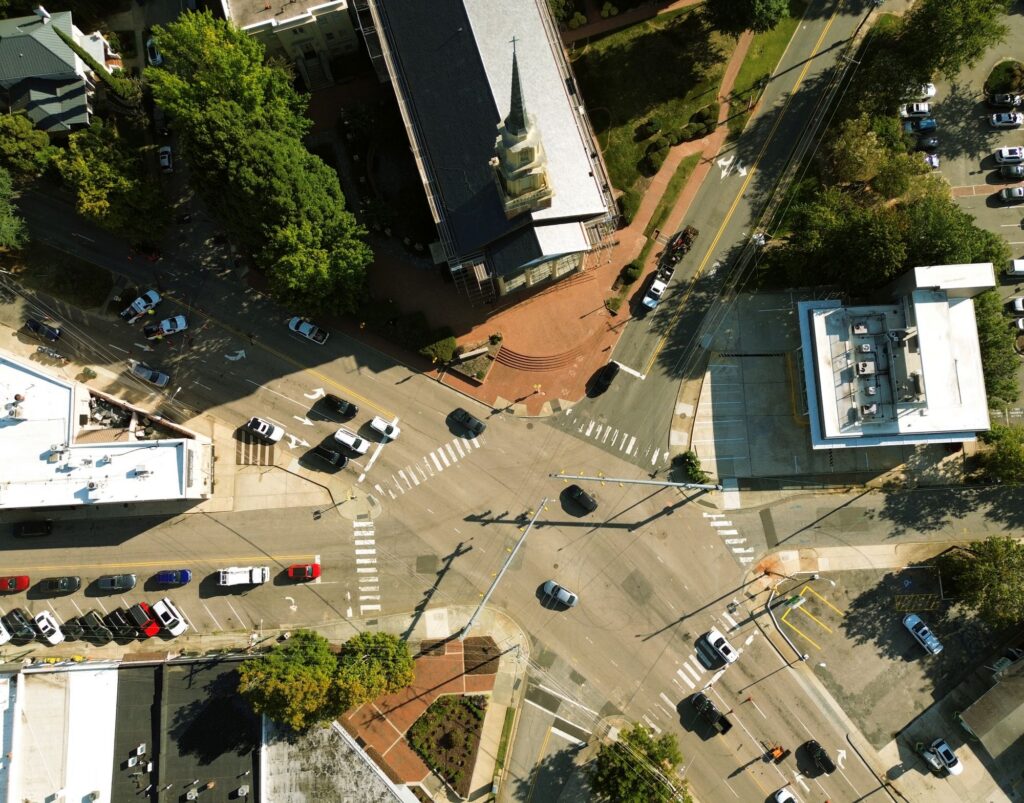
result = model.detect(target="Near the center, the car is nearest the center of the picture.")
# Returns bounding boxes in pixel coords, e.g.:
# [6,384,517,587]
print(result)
[446,405,488,438]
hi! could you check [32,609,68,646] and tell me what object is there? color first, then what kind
white car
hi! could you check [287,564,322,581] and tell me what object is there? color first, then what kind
red car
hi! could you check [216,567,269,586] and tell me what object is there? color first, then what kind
white vehicle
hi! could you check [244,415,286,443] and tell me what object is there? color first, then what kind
white truck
